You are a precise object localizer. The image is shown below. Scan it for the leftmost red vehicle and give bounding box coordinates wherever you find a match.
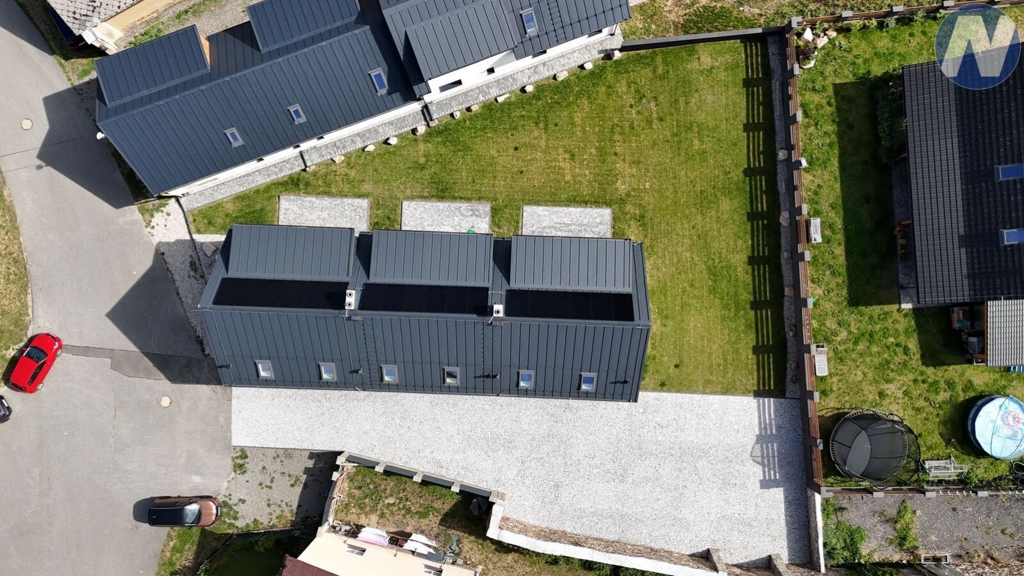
[9,331,67,397]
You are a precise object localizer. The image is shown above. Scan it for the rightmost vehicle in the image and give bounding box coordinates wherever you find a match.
[146,496,219,533]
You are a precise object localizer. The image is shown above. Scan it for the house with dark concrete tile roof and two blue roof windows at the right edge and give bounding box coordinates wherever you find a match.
[899,43,1024,304]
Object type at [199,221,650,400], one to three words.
house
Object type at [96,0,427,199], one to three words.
house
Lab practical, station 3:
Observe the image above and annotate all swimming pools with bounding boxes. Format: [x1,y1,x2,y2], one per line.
[959,392,1024,460]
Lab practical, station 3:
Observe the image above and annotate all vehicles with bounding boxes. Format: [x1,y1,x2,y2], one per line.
[42,0,94,56]
[0,398,12,427]
[146,496,219,533]
[9,331,67,397]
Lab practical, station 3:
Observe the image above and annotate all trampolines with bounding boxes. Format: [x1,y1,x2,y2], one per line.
[825,405,921,493]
